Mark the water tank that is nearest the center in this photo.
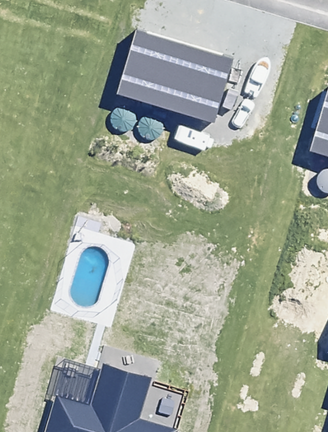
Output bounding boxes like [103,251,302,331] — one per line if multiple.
[138,115,164,140]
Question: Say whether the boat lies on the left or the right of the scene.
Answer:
right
